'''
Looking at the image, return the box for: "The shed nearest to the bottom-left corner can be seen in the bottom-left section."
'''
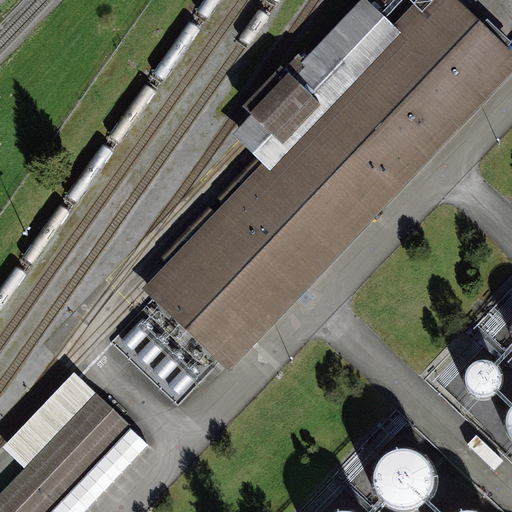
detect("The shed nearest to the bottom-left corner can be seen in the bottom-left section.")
[0,394,129,512]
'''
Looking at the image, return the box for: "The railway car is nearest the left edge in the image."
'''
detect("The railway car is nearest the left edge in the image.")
[0,262,30,313]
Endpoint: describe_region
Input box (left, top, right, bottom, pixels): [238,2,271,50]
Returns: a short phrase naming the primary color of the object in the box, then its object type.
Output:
white rail car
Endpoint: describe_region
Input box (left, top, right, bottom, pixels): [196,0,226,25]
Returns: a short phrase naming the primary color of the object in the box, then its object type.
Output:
white rail car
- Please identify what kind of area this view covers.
industrial area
